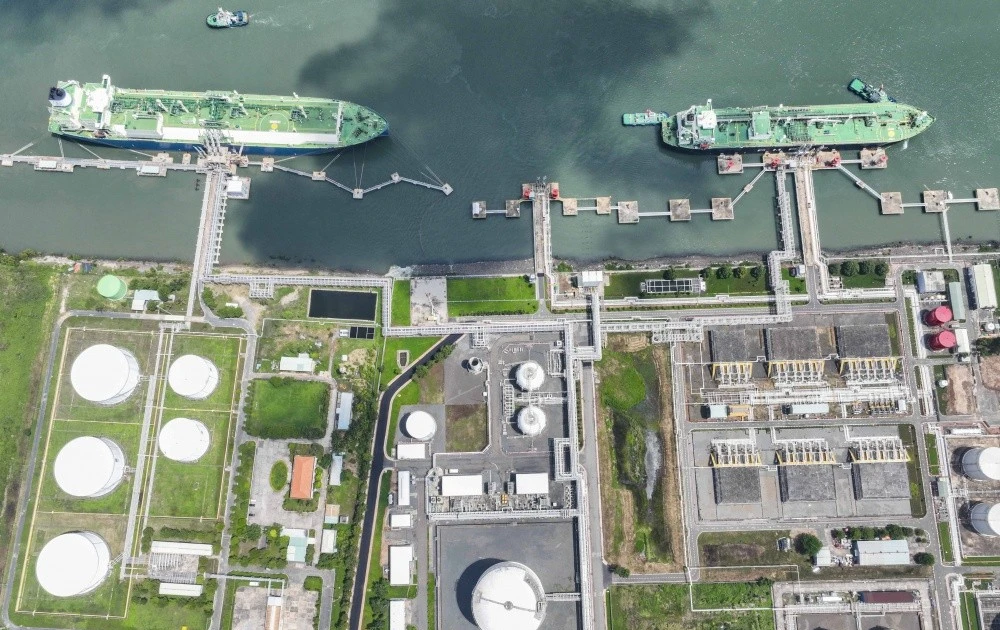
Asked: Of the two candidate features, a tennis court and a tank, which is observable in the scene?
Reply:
tank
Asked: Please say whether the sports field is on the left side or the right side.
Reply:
left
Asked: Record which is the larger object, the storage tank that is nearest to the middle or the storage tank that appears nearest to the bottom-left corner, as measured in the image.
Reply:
the storage tank that appears nearest to the bottom-left corner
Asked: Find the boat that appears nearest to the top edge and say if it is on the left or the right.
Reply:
left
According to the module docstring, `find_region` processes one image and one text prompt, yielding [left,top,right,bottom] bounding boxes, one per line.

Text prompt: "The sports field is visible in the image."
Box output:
[247,379,329,438]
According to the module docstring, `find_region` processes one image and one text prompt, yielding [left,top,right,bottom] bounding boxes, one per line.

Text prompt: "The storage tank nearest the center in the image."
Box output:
[516,361,545,393]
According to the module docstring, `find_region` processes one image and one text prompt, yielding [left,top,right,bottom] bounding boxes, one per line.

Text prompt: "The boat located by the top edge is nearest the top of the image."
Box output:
[206,10,250,29]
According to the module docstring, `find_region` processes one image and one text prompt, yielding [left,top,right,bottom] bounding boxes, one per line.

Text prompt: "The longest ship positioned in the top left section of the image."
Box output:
[45,75,388,160]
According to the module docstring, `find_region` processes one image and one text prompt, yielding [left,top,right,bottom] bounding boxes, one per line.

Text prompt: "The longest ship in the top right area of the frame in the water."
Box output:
[660,99,936,154]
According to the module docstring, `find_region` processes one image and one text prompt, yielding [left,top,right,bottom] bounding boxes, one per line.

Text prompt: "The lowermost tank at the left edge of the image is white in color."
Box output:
[35,528,111,598]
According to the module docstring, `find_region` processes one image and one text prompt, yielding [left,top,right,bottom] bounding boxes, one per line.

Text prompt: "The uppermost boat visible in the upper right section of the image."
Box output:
[846,78,897,101]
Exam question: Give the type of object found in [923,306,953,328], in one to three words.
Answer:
water tank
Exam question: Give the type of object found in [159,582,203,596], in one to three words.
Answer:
shed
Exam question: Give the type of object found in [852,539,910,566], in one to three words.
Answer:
building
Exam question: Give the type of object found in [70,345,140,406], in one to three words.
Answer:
storage tank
